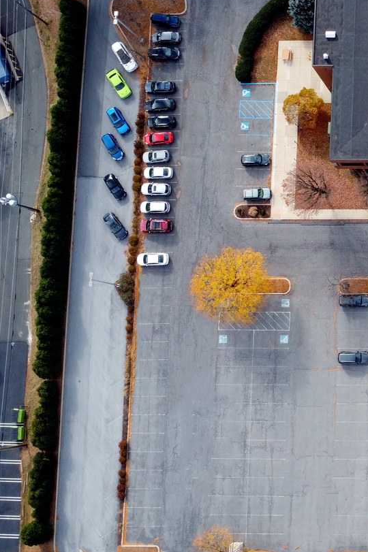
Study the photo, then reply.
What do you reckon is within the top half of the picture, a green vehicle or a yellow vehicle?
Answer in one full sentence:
The one visible within the top half of the picture is a green vehicle.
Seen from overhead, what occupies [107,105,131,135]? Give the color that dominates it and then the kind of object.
blue car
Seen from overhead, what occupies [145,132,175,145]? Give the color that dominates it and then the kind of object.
red vehicle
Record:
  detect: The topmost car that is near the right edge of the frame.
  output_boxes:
[339,293,368,309]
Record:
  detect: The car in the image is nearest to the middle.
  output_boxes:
[138,253,170,266]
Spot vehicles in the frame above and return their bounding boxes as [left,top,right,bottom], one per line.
[101,132,123,162]
[108,69,131,98]
[147,115,177,129]
[242,187,272,200]
[144,150,171,163]
[339,293,368,309]
[114,42,137,72]
[140,200,171,214]
[103,172,127,202]
[240,153,271,168]
[145,132,175,145]
[144,166,175,180]
[150,13,181,28]
[149,47,181,61]
[141,218,175,233]
[103,211,128,242]
[138,253,170,266]
[107,105,131,135]
[153,31,182,44]
[337,351,368,366]
[141,183,173,196]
